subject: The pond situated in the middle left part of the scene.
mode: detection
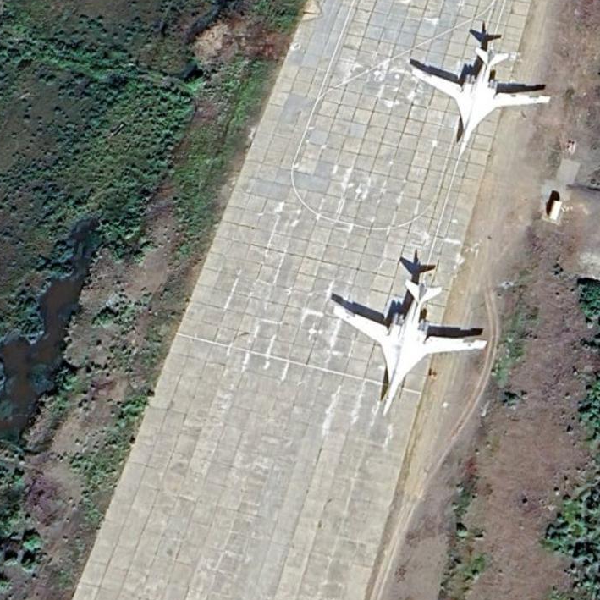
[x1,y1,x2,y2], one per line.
[0,216,99,442]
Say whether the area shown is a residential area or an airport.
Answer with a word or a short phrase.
airport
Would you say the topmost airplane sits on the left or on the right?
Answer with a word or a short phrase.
right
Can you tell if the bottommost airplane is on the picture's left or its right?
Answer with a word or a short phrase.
right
